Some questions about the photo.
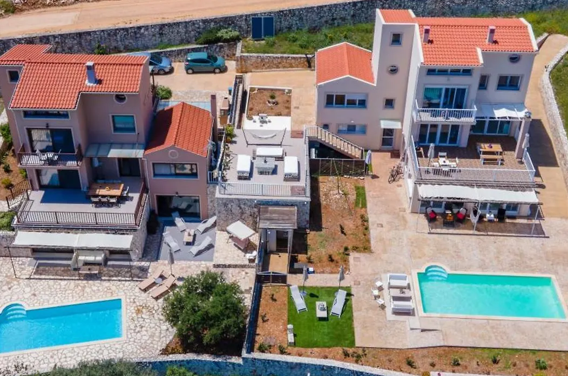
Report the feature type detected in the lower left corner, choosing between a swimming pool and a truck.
swimming pool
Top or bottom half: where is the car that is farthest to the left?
top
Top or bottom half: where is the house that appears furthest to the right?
top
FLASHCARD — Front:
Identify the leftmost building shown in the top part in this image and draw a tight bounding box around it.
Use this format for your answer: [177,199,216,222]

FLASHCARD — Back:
[0,42,223,255]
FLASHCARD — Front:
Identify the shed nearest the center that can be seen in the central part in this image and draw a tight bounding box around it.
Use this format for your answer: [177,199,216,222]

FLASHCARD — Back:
[257,205,300,248]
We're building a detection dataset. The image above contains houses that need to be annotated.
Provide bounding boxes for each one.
[0,42,223,255]
[311,8,550,214]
